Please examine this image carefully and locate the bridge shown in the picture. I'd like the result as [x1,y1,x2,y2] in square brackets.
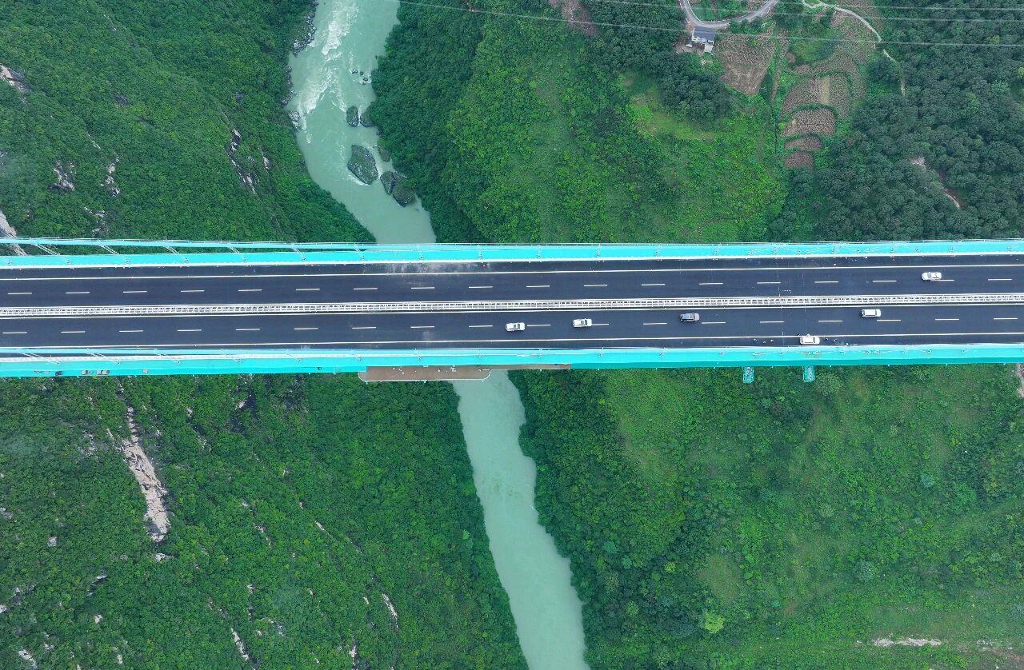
[0,239,1024,386]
